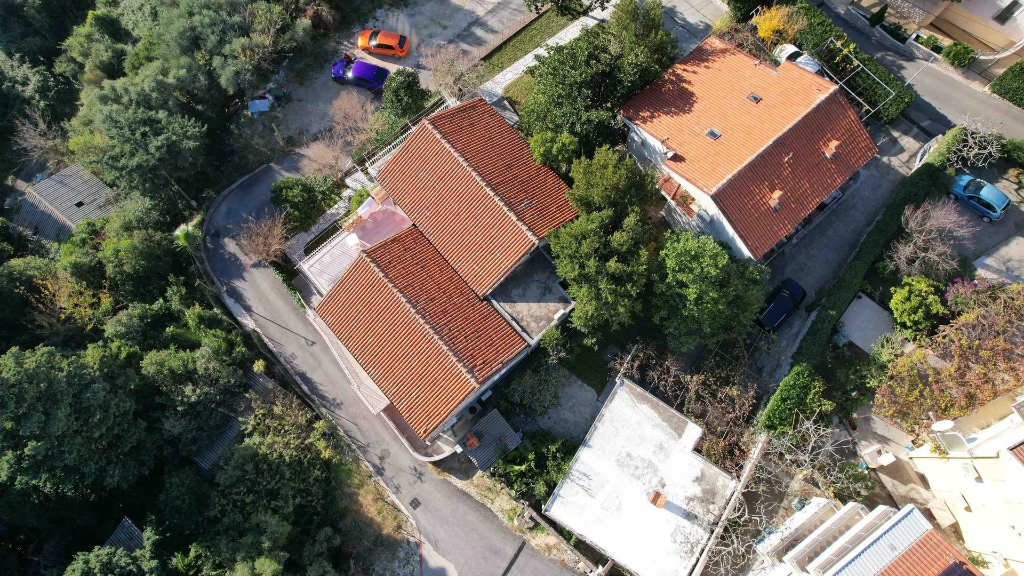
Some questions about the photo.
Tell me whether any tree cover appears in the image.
Yes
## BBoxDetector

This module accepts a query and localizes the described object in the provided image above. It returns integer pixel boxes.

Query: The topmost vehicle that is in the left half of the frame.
[357,27,411,60]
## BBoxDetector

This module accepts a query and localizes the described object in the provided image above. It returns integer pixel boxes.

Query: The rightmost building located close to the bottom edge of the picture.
[911,399,1024,576]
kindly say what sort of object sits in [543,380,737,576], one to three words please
house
